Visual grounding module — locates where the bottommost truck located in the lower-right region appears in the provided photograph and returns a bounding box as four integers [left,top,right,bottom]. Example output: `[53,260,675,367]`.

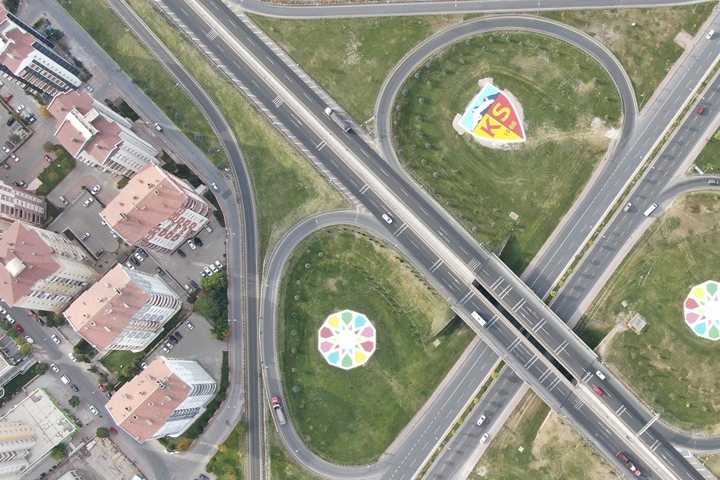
[615,449,642,479]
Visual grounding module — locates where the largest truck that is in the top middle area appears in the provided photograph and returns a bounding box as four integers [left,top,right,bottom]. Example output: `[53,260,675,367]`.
[325,107,352,133]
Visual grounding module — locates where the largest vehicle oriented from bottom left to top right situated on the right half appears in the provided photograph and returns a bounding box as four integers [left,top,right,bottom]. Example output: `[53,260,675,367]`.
[642,201,658,219]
